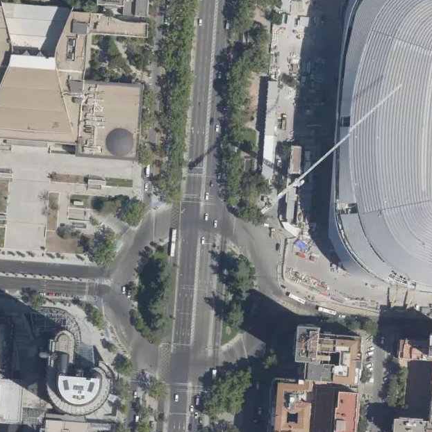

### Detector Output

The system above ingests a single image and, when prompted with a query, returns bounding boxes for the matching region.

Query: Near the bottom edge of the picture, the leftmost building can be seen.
[47,333,110,417]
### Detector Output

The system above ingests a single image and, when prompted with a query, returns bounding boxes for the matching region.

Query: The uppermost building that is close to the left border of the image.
[0,3,148,161]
